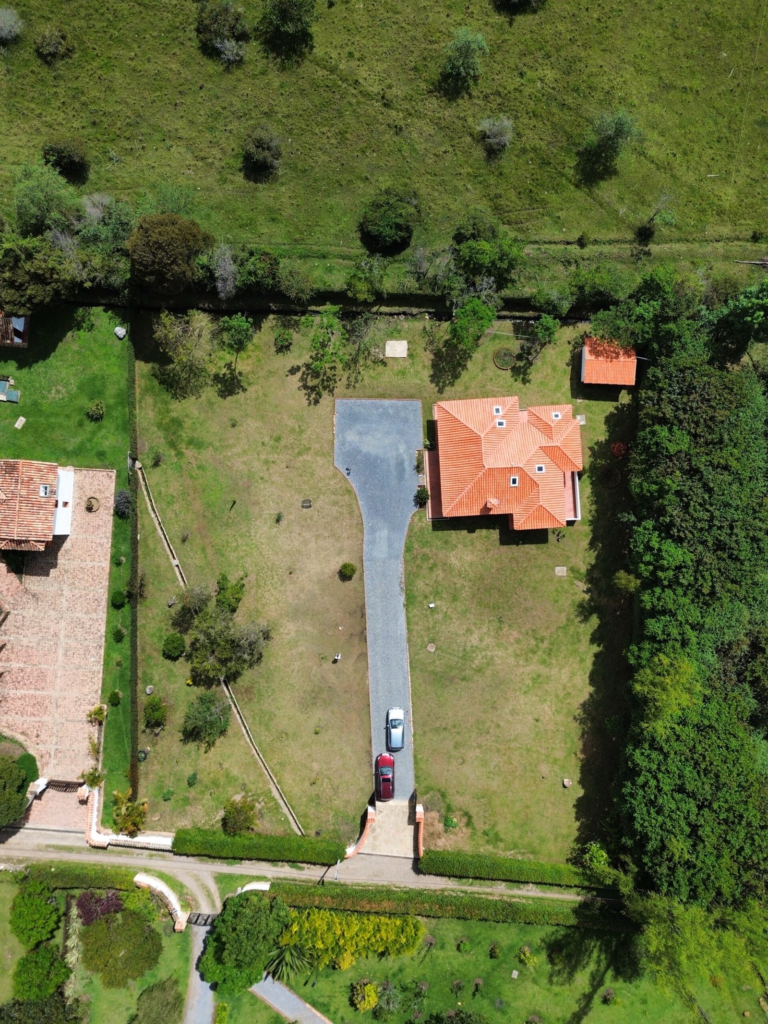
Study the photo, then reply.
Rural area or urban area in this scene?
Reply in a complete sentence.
The area shown here is rural.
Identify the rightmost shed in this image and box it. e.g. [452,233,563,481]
[576,338,650,386]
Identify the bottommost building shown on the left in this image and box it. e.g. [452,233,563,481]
[0,459,77,551]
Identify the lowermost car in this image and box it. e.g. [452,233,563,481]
[374,752,397,802]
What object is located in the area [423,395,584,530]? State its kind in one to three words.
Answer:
house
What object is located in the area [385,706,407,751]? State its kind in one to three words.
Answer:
car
